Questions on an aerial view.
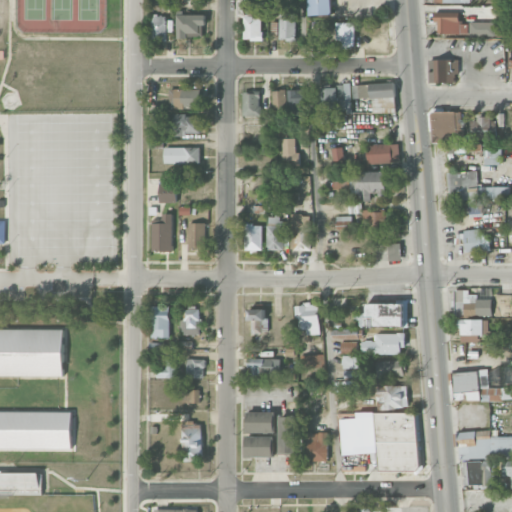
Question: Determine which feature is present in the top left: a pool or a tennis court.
tennis court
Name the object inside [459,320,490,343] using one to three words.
building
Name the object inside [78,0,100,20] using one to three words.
tennis court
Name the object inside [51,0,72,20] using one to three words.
tennis court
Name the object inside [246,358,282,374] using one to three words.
house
